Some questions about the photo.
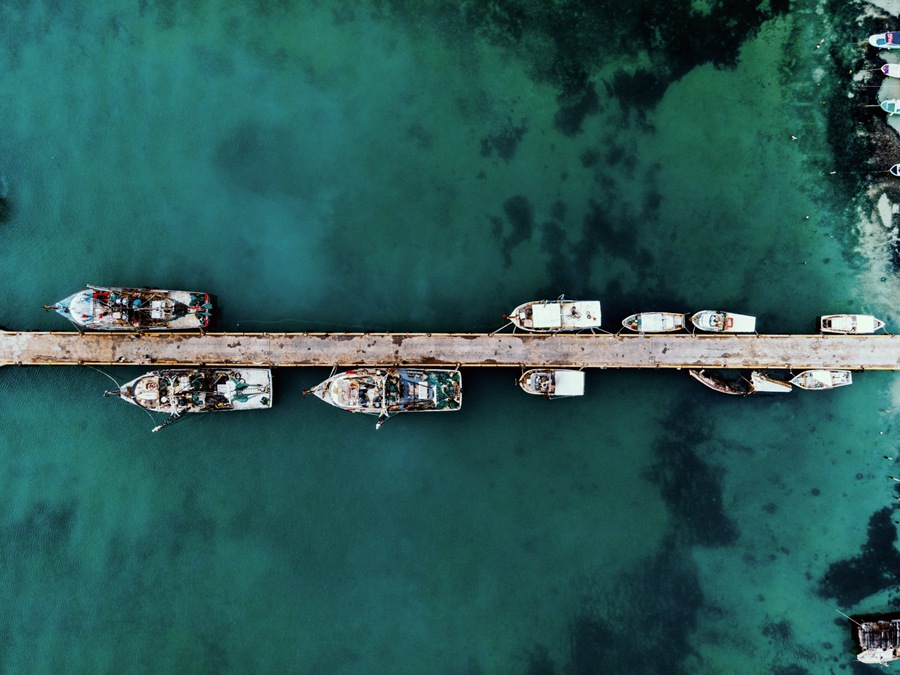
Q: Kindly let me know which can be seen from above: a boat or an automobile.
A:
boat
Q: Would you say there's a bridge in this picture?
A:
No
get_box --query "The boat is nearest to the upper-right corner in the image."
[867,30,900,50]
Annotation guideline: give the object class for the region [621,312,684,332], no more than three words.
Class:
boat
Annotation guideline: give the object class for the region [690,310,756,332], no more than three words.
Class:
boat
